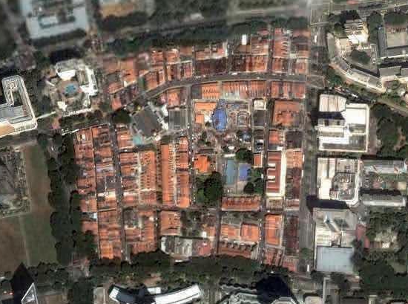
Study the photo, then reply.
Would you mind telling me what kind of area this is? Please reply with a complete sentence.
This looks like a residential area.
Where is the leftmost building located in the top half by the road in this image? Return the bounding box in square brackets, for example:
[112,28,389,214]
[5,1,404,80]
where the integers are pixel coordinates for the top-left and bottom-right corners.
[0,76,41,132]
